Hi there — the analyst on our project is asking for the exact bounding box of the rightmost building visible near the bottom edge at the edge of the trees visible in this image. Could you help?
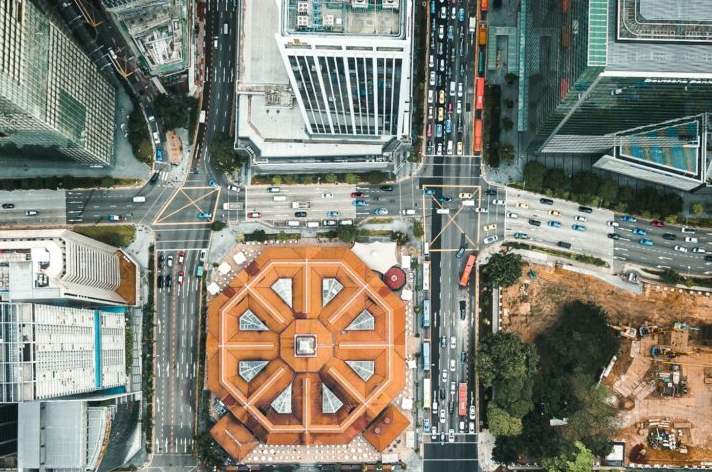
[606,442,626,467]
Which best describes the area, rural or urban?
urban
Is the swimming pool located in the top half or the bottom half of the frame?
top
